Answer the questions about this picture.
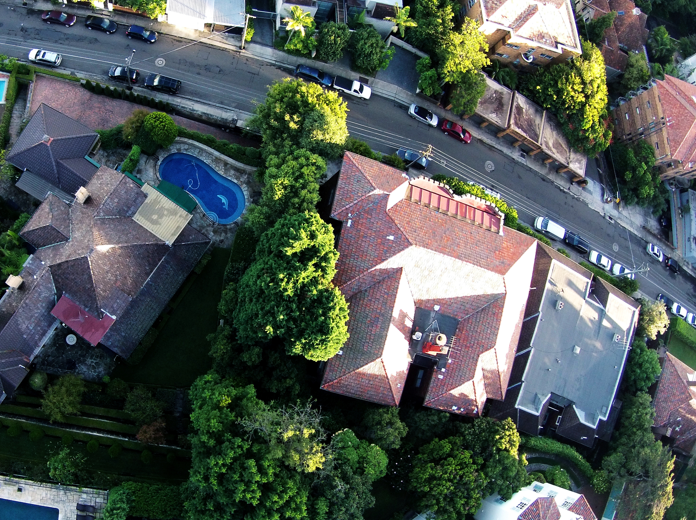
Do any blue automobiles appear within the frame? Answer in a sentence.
Yes, I can see a blue automobile in this picture.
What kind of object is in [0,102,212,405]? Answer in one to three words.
house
